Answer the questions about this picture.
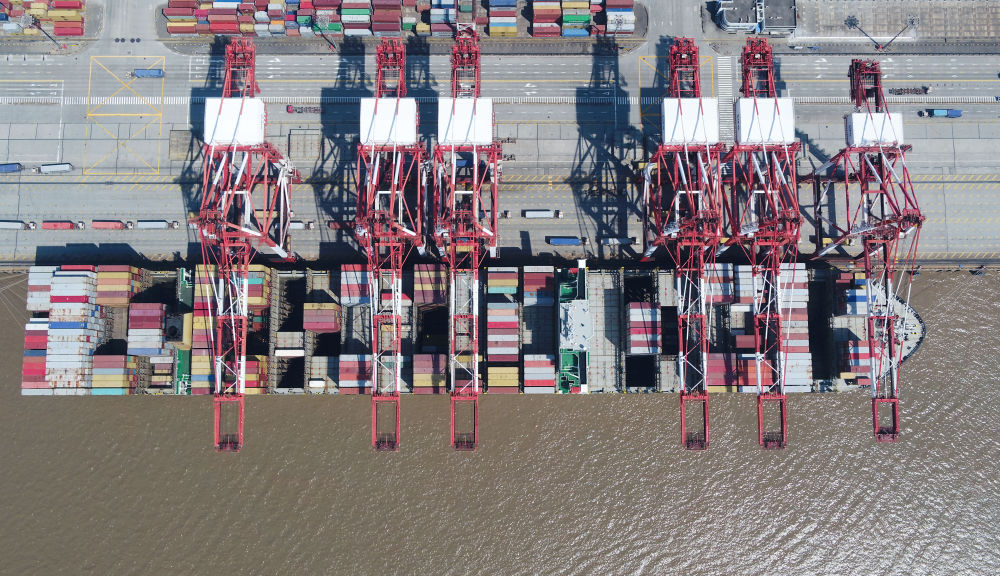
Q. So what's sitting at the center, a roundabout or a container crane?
container crane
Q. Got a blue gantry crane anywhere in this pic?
No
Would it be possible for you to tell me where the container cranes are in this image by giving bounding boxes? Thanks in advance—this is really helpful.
[699,34,807,454]
[791,56,929,444]
[354,34,437,454]
[630,34,731,454]
[197,34,306,454]
[430,0,507,454]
